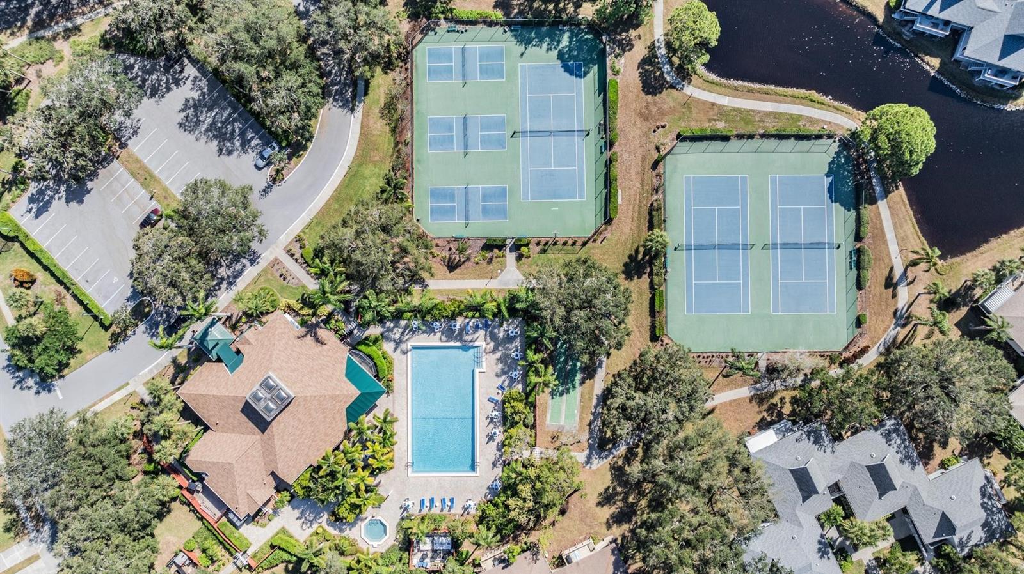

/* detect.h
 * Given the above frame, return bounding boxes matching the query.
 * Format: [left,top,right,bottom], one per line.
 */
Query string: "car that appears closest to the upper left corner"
[135,205,161,230]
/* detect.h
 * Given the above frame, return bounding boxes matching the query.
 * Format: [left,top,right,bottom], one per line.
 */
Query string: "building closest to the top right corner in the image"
[890,0,1024,90]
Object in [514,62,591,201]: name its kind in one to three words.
tennis court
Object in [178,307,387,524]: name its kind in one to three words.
building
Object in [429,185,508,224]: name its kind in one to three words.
sports court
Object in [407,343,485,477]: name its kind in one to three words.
swimming pool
